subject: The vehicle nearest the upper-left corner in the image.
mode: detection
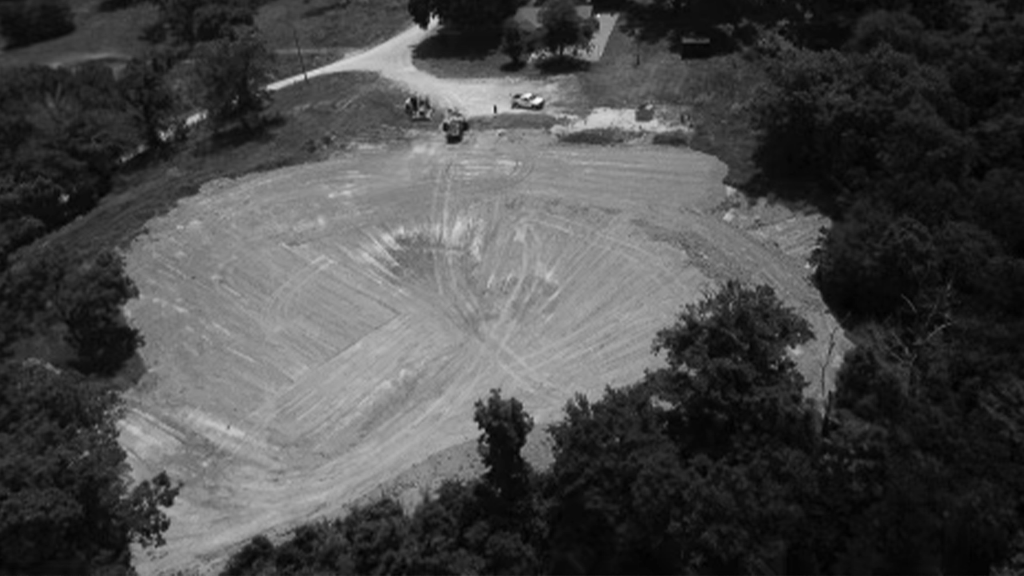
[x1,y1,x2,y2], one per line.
[406,87,435,126]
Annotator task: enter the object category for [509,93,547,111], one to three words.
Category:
vehicle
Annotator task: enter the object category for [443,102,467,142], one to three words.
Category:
work vehicle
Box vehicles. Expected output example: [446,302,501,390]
[406,87,435,126]
[443,102,467,142]
[509,93,547,111]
